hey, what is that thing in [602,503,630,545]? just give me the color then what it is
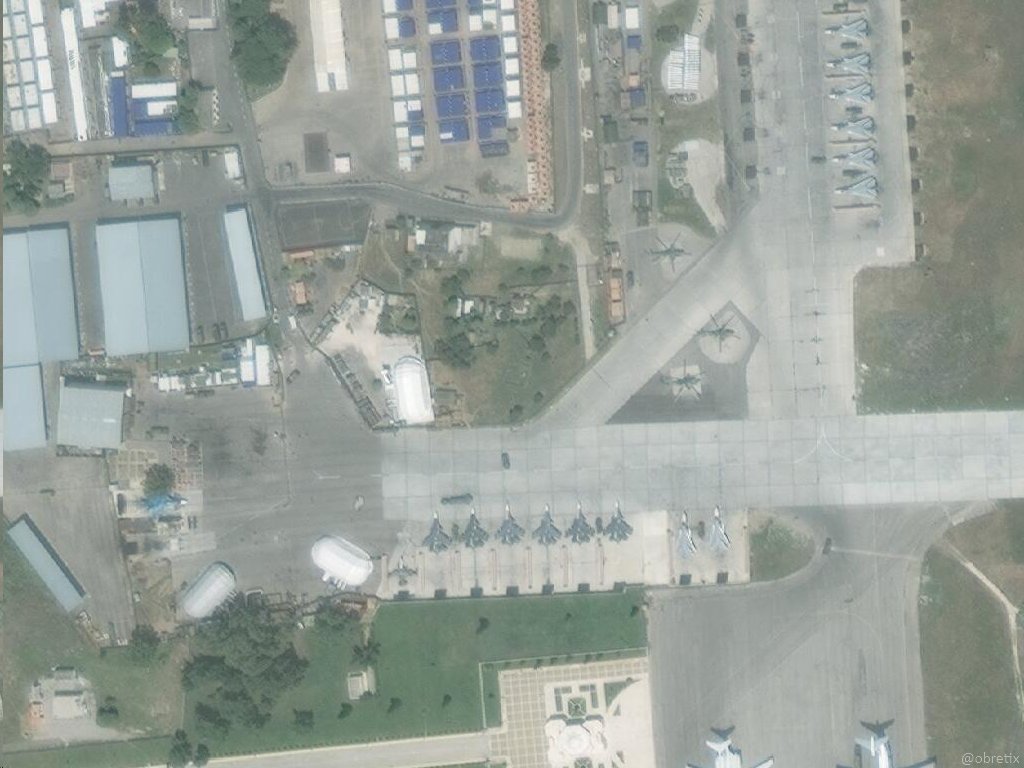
gray airplane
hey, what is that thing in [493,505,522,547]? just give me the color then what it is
gray airplane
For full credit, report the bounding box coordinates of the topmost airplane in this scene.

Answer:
[823,20,866,42]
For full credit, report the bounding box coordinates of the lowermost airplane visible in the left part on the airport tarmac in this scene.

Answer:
[388,558,416,588]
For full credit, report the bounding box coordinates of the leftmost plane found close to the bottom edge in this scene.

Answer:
[685,734,737,768]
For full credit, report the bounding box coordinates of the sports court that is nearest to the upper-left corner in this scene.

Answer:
[304,132,329,173]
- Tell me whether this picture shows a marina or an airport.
airport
